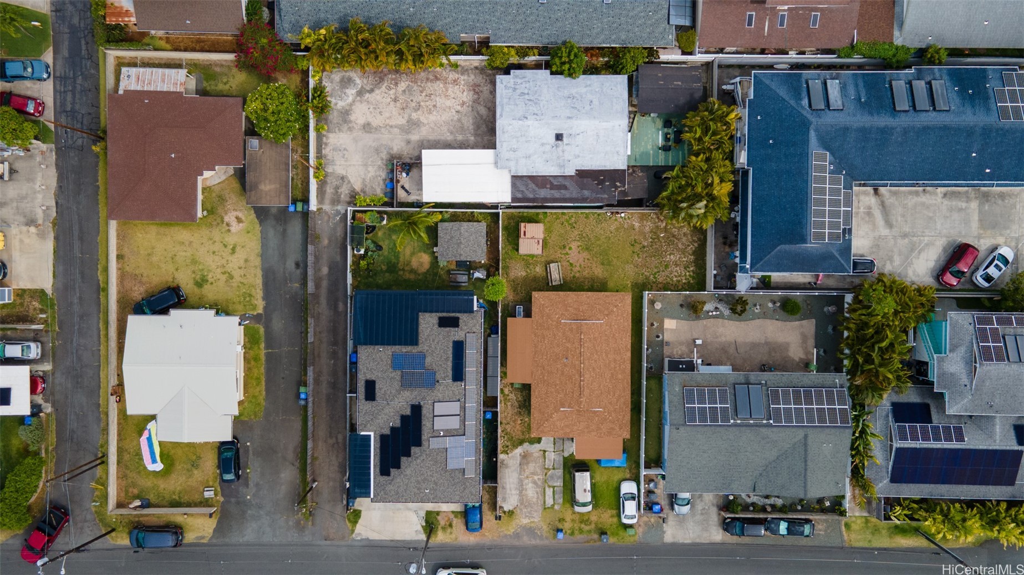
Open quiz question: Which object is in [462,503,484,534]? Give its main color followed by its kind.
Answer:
blue car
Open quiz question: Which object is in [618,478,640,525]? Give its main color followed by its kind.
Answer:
white car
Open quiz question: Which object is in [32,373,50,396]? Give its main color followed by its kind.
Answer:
red car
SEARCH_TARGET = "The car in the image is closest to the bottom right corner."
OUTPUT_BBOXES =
[766,516,815,540]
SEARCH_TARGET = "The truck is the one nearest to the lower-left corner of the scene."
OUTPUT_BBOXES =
[23,504,72,563]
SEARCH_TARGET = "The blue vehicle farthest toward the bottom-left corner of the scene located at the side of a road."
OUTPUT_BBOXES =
[131,524,185,549]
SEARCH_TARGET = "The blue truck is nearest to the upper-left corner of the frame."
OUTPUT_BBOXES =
[0,58,53,83]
